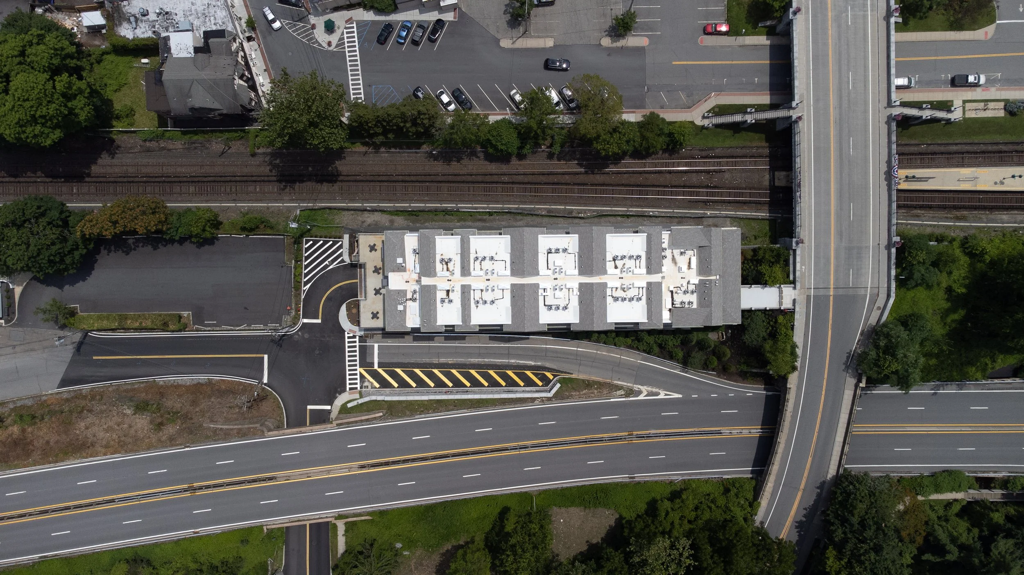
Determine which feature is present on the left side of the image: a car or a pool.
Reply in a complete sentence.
Visible on the left side of the image is a car.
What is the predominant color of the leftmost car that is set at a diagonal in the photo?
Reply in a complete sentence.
The leftmost car that is set at a diagonal looks white in the image.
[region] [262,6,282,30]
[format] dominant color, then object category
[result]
white car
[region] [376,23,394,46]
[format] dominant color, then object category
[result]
black car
